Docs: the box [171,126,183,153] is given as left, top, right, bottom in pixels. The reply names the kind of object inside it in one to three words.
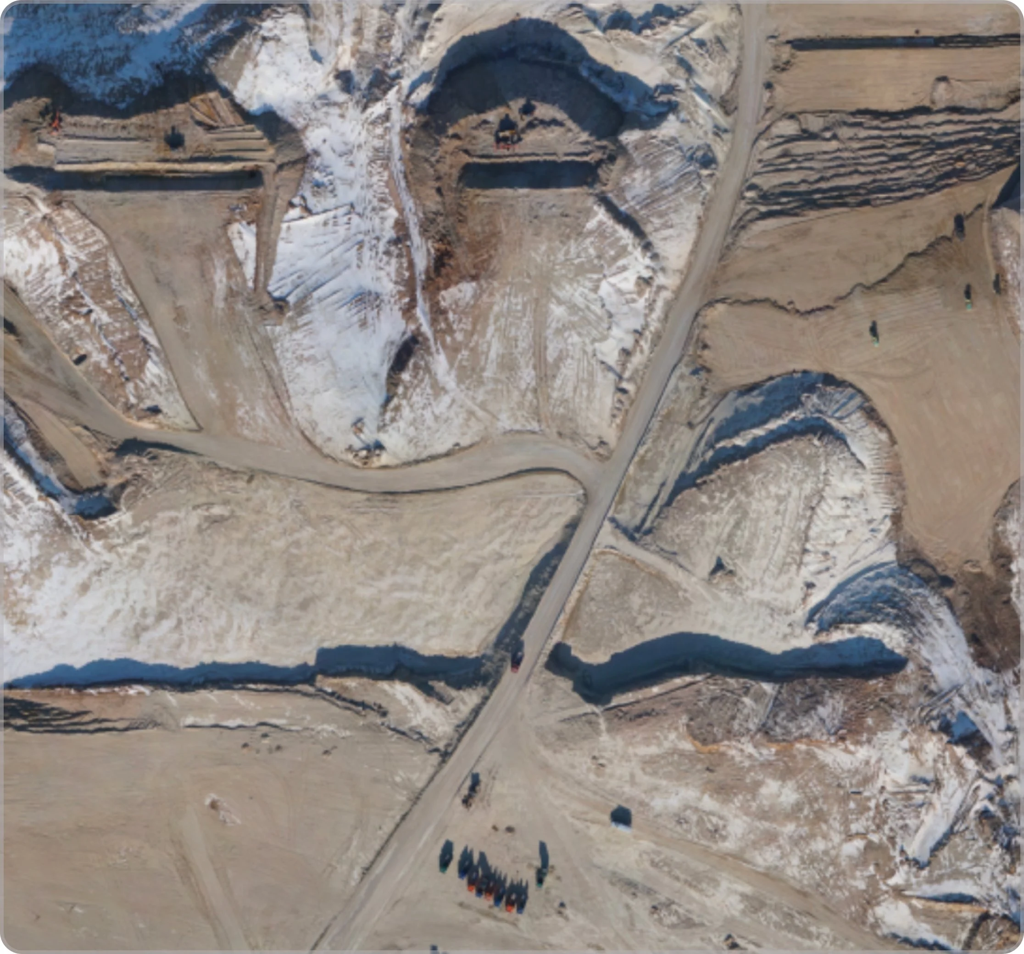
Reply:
vehicle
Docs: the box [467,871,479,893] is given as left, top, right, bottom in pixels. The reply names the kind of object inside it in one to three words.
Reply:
vehicle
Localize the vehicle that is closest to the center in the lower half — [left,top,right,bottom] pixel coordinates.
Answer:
[512,652,524,674]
